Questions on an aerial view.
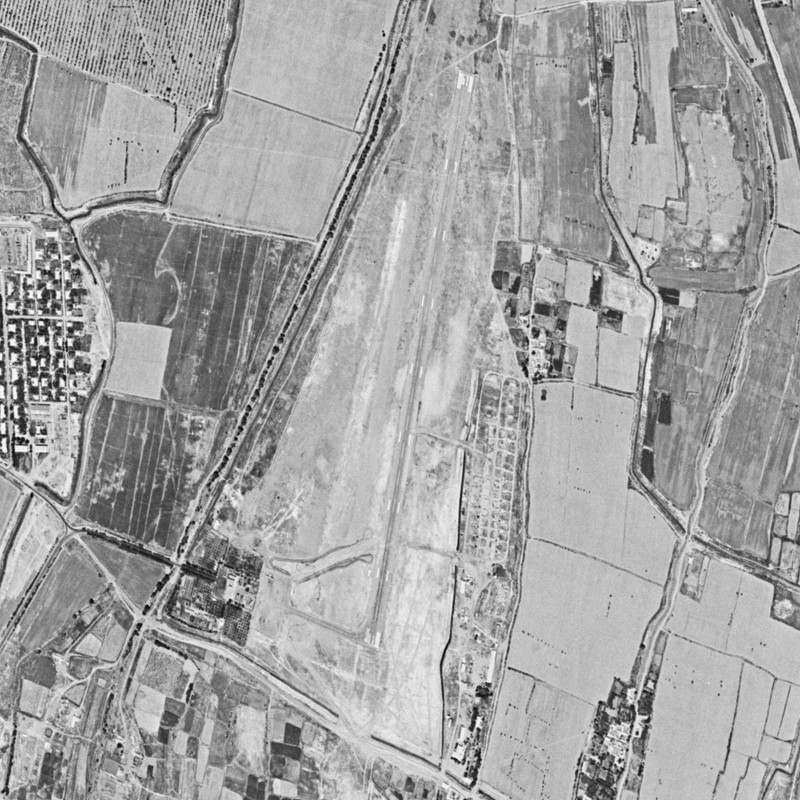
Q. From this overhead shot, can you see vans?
No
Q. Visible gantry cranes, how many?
zero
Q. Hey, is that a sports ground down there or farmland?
farmland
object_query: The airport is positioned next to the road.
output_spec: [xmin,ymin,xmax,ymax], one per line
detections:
[243,0,521,753]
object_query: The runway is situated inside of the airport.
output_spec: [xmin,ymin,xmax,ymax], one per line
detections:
[364,71,475,648]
